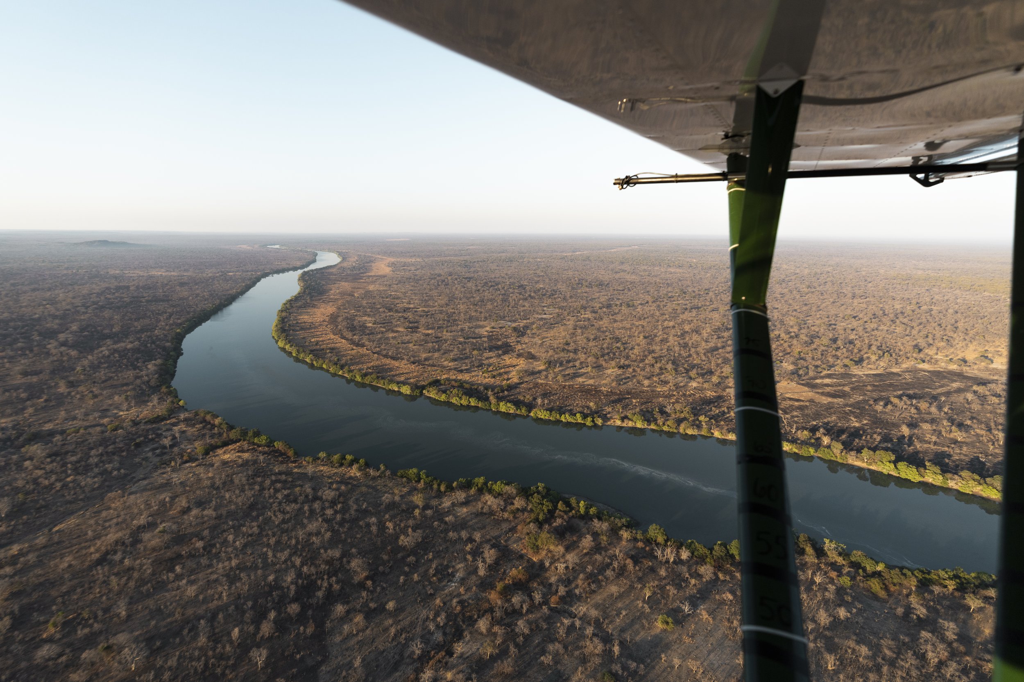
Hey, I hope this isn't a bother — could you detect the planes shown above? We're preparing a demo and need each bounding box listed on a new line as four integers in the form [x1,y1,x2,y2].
[322,0,1024,682]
